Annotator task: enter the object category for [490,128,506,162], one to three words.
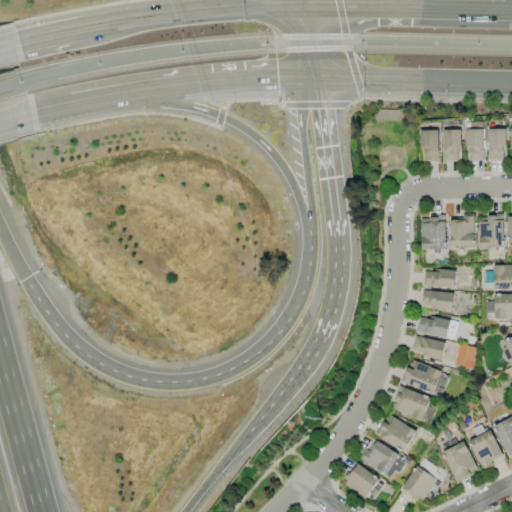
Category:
house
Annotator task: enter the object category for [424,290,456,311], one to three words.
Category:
house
